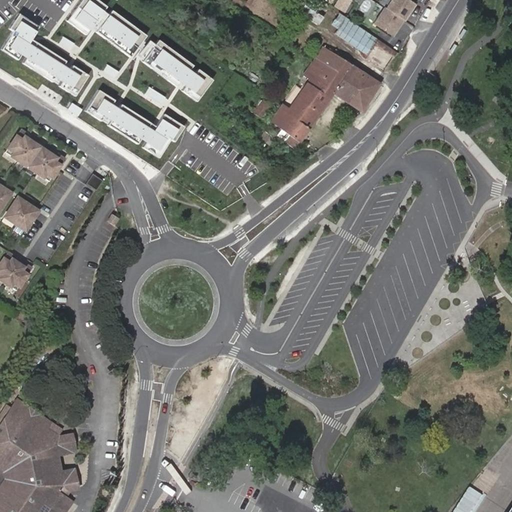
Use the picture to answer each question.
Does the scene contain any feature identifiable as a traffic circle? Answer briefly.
Yes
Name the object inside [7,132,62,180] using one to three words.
house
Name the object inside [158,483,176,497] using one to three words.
vehicle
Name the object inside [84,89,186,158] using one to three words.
building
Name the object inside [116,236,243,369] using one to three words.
roundabout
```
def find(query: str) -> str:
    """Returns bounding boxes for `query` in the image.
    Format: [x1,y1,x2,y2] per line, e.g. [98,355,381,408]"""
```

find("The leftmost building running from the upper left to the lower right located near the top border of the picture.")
[0,13,88,96]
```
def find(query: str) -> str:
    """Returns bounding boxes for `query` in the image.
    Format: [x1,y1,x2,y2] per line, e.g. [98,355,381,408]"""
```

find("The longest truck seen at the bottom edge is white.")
[161,459,192,494]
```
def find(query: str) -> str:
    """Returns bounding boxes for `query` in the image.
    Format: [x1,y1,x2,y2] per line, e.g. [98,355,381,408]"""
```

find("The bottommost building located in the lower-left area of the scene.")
[0,398,80,512]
